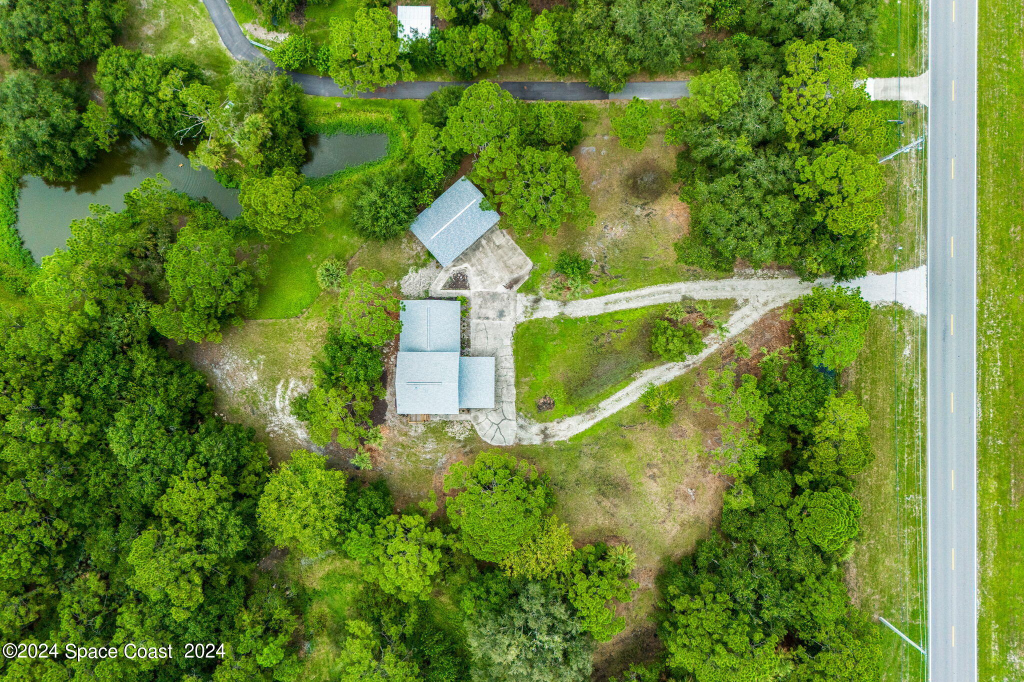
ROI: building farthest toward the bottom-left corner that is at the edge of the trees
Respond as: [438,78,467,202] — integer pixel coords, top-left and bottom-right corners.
[395,299,495,414]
